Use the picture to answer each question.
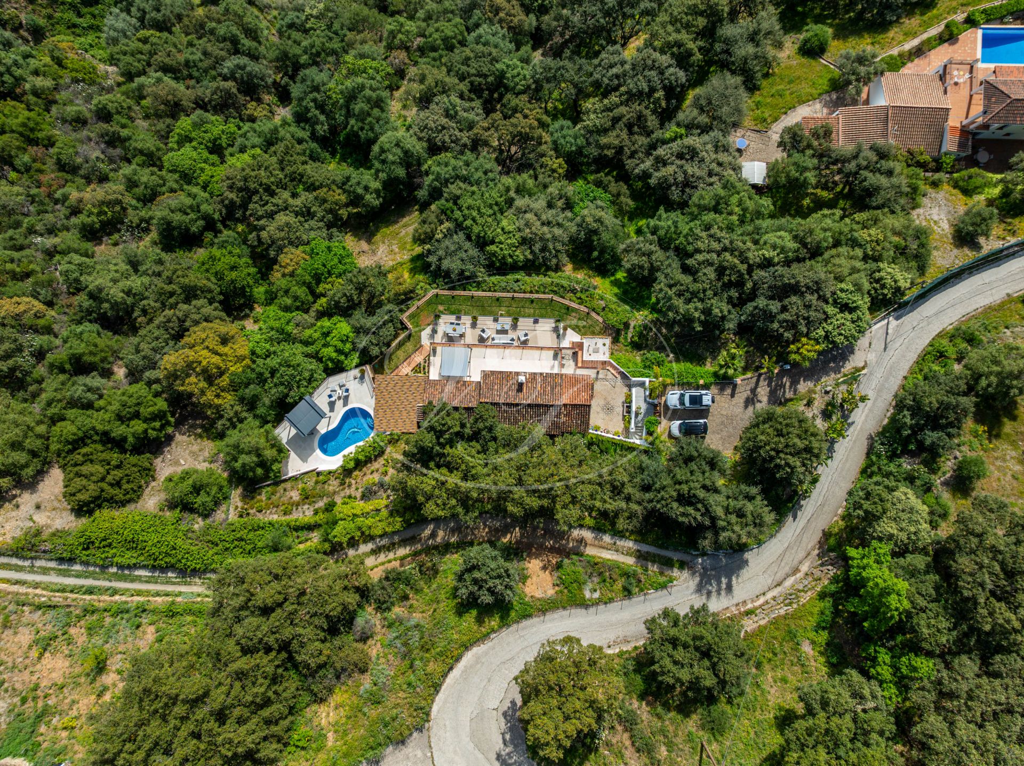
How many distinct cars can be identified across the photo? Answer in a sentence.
The number of cars here is 2.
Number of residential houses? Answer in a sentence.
There are 2 residential houses in the image.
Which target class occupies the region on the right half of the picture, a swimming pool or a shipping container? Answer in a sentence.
What appears on the right half of the picture is a swimming pool.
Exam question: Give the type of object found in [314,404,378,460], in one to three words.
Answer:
swimming pool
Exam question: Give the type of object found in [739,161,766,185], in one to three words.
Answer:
shed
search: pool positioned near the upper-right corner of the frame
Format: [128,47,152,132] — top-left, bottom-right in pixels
[978,25,1024,65]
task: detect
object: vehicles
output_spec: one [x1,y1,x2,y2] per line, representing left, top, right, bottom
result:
[668,418,714,440]
[666,388,718,412]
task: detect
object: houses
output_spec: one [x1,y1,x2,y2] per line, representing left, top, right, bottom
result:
[792,71,973,165]
[373,370,594,437]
